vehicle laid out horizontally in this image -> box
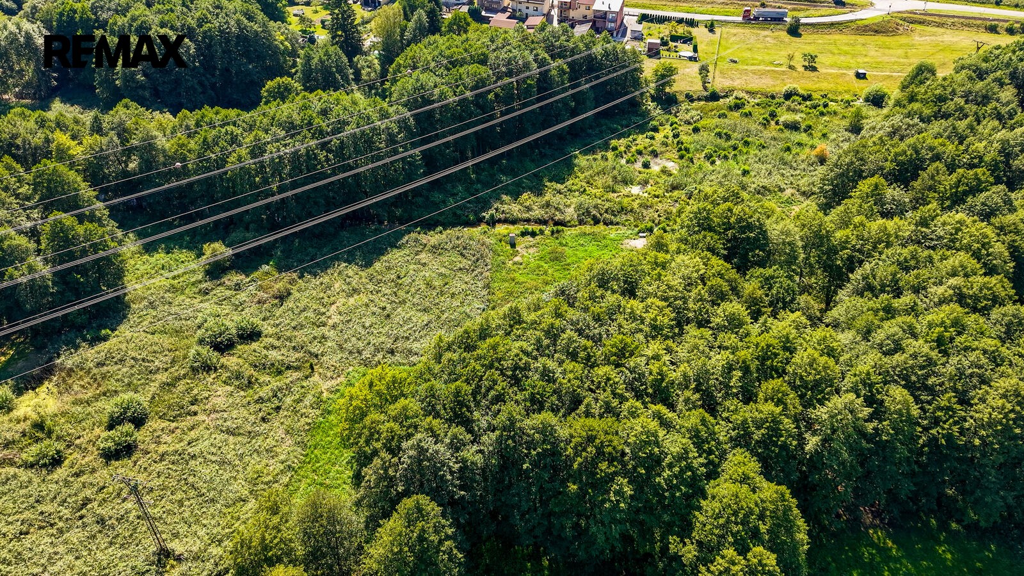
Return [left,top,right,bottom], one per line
[742,9,790,22]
